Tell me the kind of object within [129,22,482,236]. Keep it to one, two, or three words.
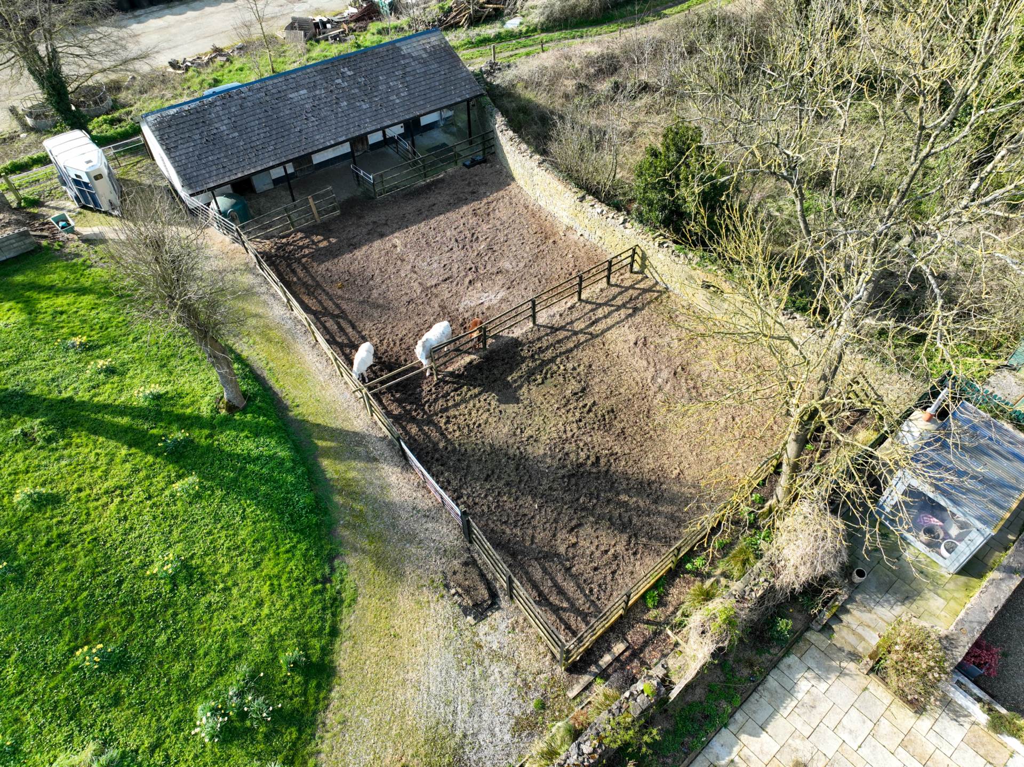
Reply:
building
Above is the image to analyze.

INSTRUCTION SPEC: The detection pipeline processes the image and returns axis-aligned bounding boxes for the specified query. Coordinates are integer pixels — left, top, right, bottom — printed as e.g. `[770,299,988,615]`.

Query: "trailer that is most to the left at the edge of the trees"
[46,130,129,219]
